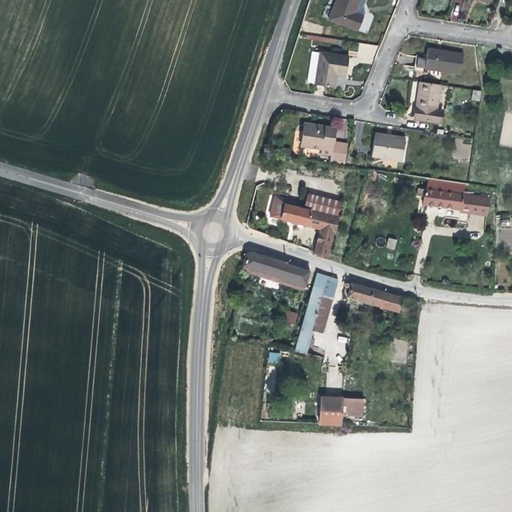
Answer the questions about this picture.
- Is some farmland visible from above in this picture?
Yes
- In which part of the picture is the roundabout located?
center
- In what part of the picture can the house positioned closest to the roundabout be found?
center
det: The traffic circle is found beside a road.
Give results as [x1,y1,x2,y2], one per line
[162,190,247,282]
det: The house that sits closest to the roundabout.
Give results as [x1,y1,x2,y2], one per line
[242,251,310,290]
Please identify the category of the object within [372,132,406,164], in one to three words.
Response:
house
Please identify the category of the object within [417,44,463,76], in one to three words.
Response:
house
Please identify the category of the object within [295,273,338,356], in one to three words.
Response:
shed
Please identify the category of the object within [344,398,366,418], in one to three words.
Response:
building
